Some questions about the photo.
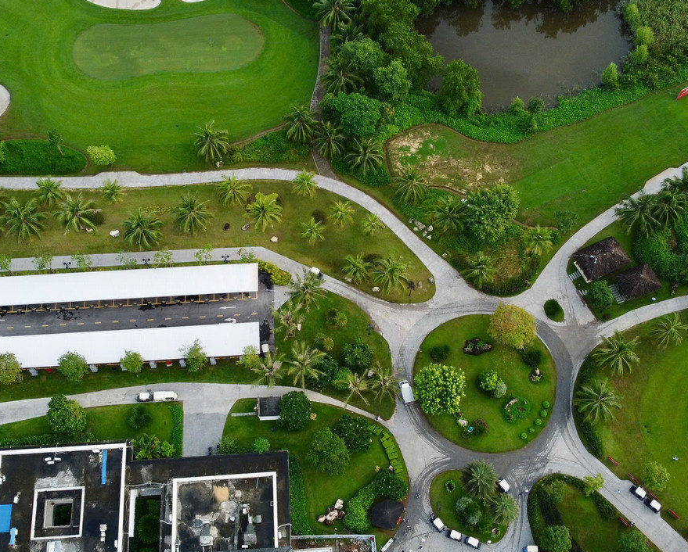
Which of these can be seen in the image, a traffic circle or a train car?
traffic circle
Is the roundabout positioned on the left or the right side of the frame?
right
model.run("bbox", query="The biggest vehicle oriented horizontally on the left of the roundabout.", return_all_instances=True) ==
[152,390,180,403]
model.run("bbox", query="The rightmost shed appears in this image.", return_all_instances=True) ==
[617,263,661,300]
